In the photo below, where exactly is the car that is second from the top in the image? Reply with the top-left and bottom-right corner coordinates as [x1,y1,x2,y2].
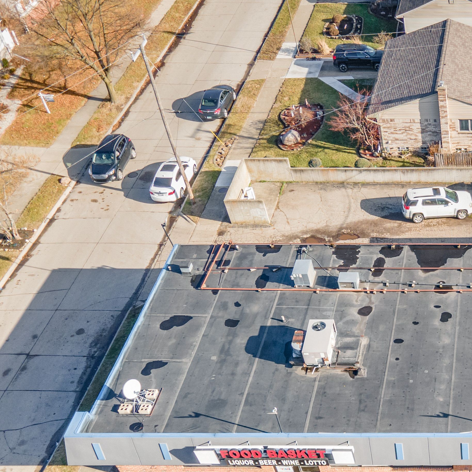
[198,85,238,119]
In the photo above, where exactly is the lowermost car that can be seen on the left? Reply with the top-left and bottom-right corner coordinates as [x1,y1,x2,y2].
[149,159,194,202]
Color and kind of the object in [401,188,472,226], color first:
white car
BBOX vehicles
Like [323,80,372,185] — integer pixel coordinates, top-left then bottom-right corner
[198,85,238,119]
[401,188,472,226]
[91,131,135,179]
[149,159,194,202]
[333,44,383,71]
